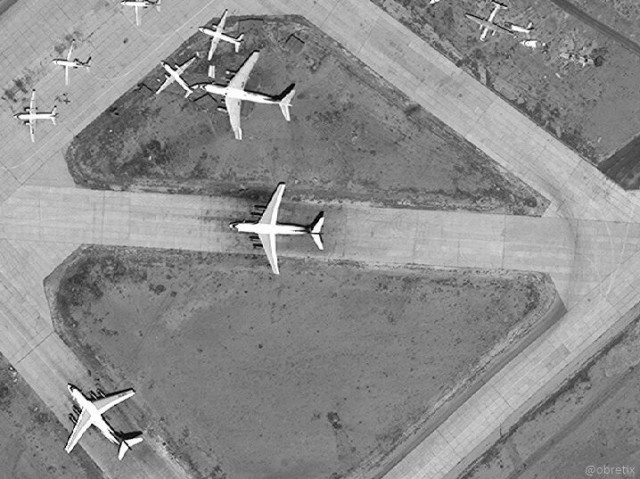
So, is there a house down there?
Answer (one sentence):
No, there appears to be no house in this shot.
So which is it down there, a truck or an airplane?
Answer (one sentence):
I can see an airplane in this picture.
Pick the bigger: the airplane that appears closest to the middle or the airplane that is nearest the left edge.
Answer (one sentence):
It is the airplane that appears closest to the middle that is larger, not the airplane that is nearest the left edge.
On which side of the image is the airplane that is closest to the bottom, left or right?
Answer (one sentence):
It is on the left.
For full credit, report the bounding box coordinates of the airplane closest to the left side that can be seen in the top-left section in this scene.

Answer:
[15,90,58,142]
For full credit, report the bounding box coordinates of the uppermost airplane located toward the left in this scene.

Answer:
[121,0,159,26]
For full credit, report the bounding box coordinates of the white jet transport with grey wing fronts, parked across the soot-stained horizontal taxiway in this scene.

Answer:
[230,184,324,276]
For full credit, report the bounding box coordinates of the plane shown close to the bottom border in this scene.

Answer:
[68,384,143,463]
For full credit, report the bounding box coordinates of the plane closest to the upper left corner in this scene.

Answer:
[53,42,90,86]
